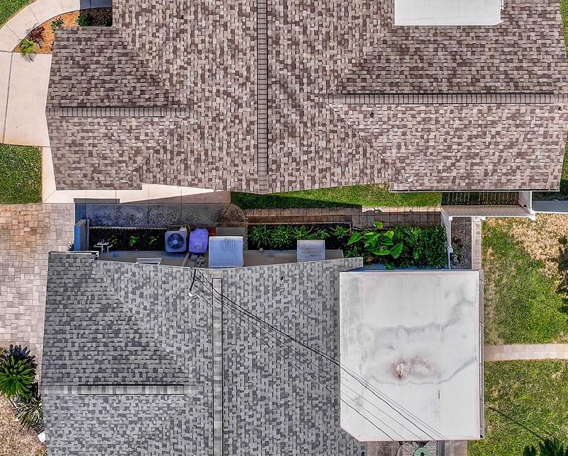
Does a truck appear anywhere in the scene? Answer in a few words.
No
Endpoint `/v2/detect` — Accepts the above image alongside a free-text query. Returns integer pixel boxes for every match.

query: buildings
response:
[42,235,484,456]
[48,0,568,194]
